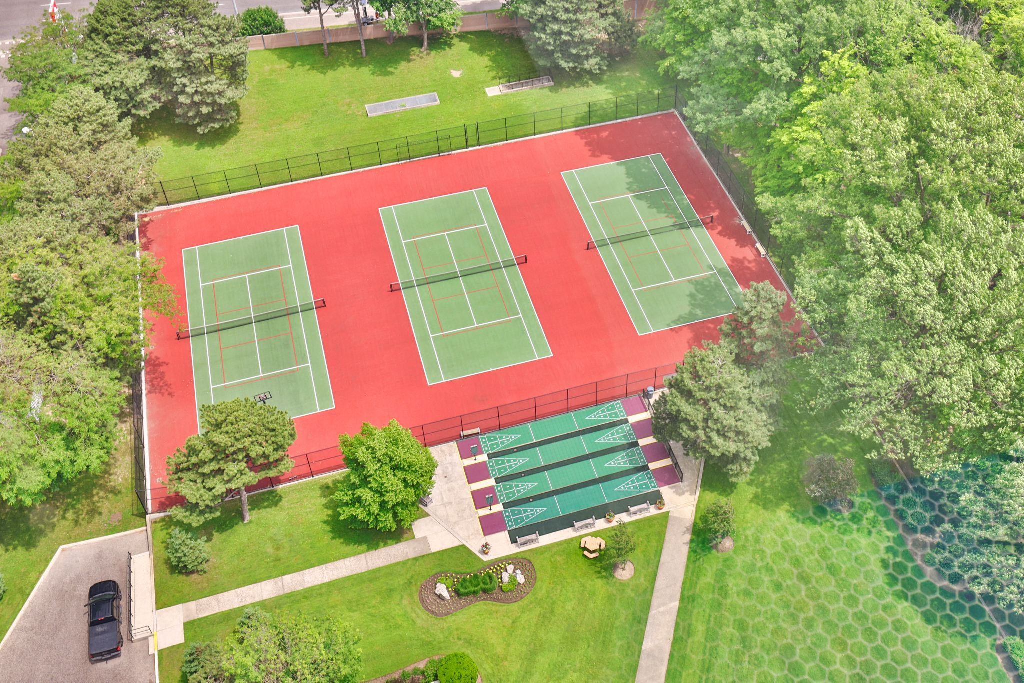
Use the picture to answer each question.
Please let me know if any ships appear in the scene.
No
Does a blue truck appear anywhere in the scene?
No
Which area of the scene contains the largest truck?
bottom left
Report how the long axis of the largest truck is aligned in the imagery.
up and down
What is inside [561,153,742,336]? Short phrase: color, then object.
green tennis court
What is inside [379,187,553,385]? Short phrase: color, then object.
green tennis court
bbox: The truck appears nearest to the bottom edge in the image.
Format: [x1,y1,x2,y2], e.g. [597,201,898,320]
[83,581,125,663]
